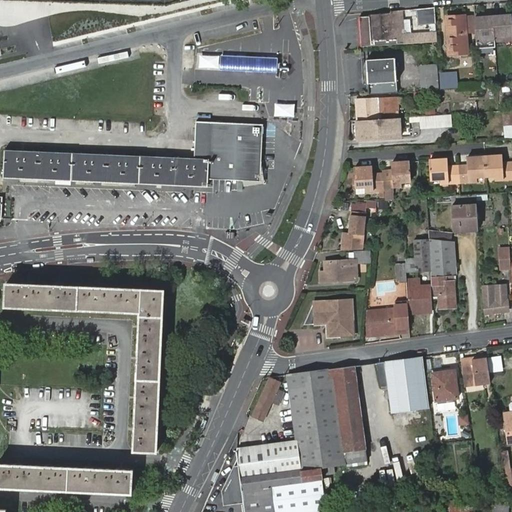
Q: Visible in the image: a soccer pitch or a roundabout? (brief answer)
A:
roundabout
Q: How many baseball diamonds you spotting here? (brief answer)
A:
0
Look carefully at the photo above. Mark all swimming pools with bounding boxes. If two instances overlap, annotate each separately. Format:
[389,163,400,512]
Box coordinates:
[376,280,397,294]
[444,412,460,438]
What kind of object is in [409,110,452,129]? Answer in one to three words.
shed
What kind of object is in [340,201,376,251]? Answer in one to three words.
house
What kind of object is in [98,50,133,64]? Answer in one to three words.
vehicle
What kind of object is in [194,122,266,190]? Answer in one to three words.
building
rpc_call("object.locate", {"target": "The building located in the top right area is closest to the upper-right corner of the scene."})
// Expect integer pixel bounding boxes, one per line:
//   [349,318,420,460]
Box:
[468,14,512,54]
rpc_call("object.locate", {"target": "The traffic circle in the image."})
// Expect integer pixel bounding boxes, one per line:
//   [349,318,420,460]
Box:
[231,252,304,327]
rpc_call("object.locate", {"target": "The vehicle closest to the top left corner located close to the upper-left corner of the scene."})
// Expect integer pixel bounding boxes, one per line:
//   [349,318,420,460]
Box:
[54,60,88,74]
